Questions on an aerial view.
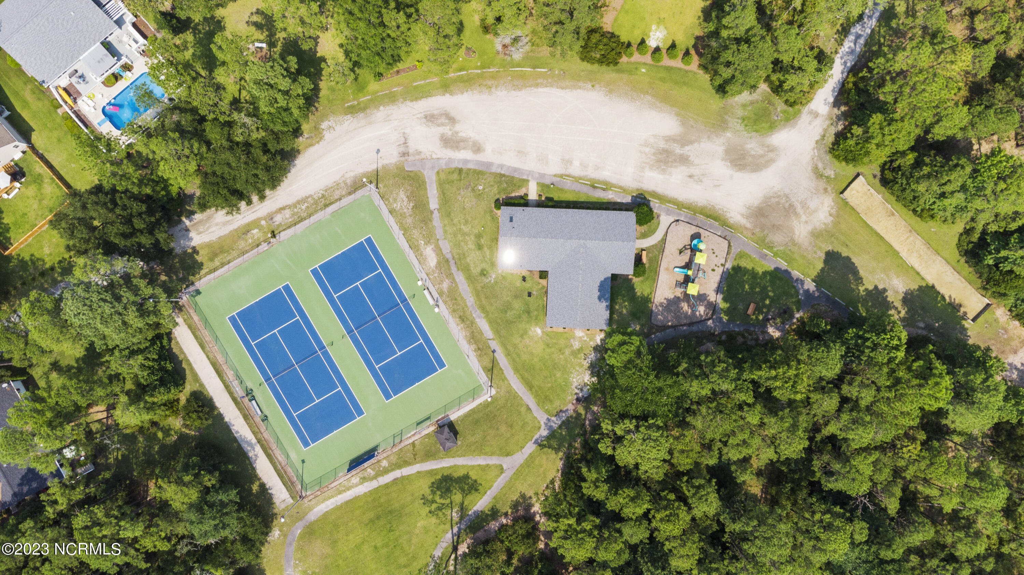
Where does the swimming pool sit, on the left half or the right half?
left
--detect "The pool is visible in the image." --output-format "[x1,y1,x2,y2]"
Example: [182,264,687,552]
[98,70,166,131]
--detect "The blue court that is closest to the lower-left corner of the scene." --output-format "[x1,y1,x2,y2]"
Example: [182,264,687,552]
[227,282,365,450]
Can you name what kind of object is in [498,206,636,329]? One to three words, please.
building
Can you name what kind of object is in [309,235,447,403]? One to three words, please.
tennis court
